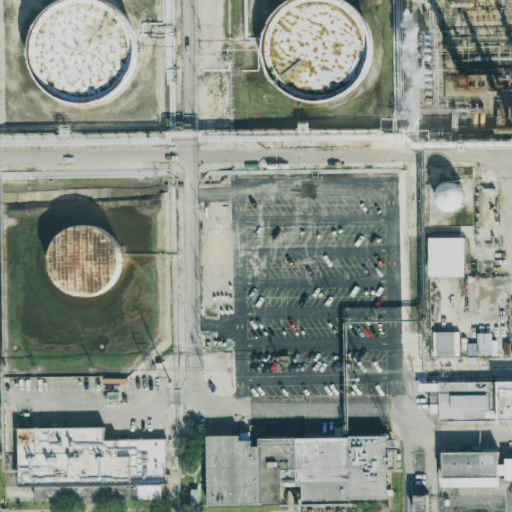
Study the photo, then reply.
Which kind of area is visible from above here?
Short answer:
industrial area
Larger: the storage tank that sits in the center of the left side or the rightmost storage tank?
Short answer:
the storage tank that sits in the center of the left side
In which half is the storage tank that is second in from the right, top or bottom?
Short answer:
top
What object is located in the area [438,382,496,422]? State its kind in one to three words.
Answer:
building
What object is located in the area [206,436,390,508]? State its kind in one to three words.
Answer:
building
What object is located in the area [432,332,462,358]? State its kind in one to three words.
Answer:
shed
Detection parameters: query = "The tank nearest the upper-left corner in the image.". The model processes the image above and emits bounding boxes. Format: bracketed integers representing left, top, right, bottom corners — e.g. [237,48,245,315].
[26,0,138,107]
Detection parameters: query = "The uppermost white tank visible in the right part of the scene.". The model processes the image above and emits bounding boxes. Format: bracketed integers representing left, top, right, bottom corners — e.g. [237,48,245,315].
[258,0,372,106]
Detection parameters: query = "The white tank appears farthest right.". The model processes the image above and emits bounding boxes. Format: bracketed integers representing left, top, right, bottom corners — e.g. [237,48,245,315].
[432,182,468,214]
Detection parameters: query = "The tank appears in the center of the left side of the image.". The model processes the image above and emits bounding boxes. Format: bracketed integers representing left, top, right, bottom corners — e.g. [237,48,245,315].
[47,225,124,302]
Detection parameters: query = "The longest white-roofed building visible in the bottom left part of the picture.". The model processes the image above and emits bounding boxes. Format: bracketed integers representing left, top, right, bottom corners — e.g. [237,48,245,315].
[17,429,168,489]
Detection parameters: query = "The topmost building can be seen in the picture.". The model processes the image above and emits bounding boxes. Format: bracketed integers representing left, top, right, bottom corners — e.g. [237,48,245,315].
[428,238,466,278]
